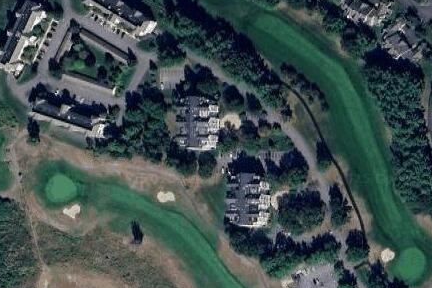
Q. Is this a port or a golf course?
golf course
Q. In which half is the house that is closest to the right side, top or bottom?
top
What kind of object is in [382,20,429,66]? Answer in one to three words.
house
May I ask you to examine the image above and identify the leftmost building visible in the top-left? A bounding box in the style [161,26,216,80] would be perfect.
[0,5,48,80]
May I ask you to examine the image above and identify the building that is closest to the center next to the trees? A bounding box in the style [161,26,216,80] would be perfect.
[175,97,221,153]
